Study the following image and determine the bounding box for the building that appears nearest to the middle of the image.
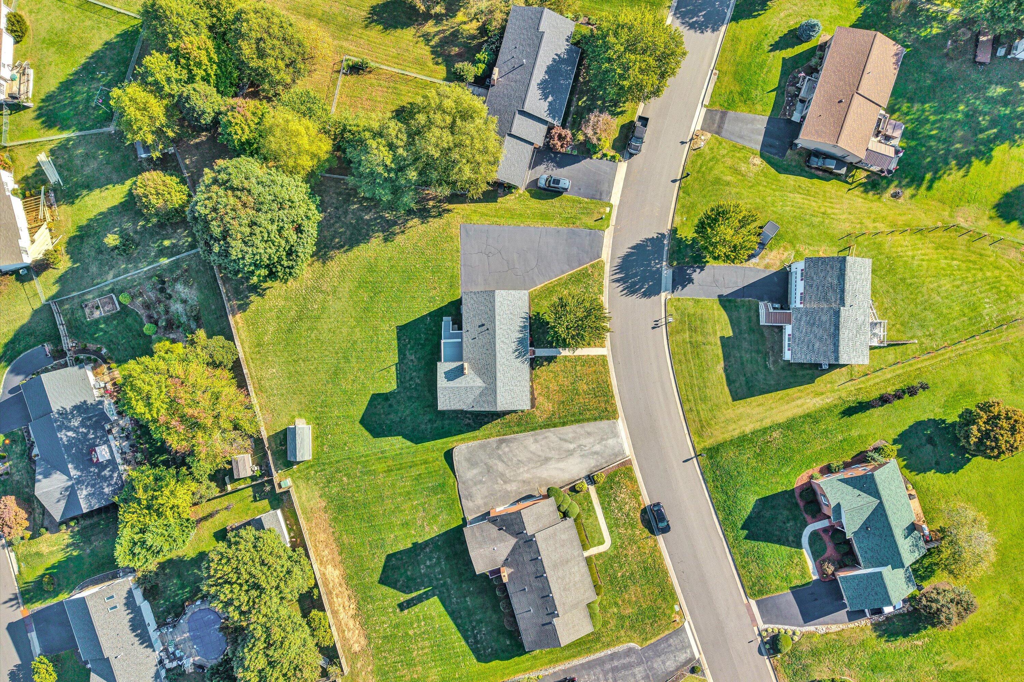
[437,290,531,411]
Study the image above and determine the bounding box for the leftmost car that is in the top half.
[539,174,573,194]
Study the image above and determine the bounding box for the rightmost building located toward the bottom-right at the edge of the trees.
[808,458,930,611]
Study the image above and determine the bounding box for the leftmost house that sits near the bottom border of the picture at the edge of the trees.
[63,577,181,682]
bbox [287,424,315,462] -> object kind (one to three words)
shed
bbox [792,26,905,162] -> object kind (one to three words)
house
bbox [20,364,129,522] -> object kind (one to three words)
house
